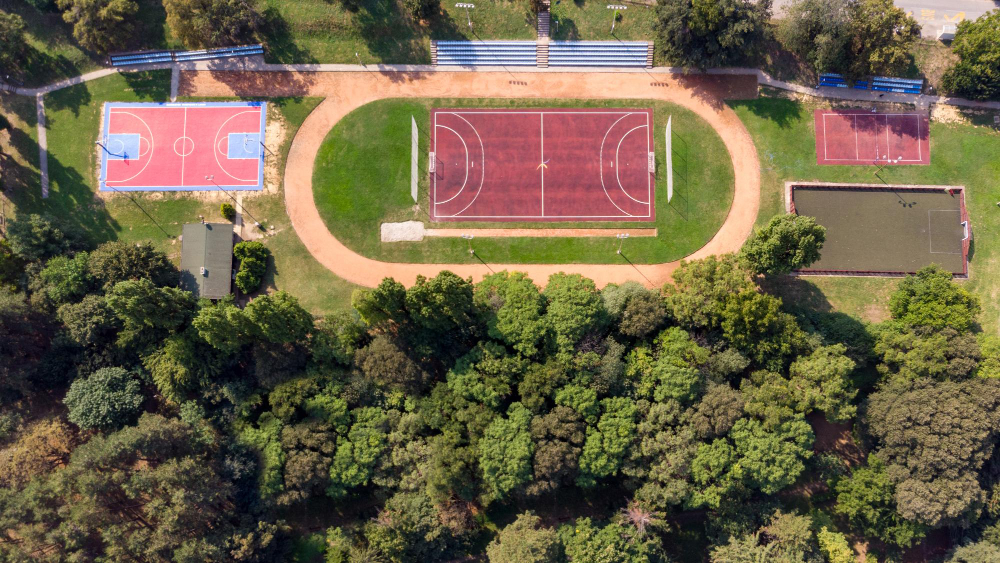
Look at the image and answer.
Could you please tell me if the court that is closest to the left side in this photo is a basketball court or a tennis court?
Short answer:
basketball court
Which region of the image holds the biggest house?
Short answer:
left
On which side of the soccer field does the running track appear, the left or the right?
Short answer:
to the left of it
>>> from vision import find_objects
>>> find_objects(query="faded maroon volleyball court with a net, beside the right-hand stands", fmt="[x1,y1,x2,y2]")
[814,109,930,165]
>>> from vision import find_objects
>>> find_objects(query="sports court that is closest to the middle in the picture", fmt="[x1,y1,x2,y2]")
[431,108,655,221]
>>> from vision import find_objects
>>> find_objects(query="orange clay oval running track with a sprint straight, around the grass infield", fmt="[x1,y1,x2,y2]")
[178,70,760,286]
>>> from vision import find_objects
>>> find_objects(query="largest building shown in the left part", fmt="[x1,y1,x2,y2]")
[181,219,234,302]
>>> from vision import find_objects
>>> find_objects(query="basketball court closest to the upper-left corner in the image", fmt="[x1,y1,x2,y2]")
[100,101,266,191]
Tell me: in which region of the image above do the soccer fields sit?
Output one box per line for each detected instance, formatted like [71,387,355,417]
[785,182,973,279]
